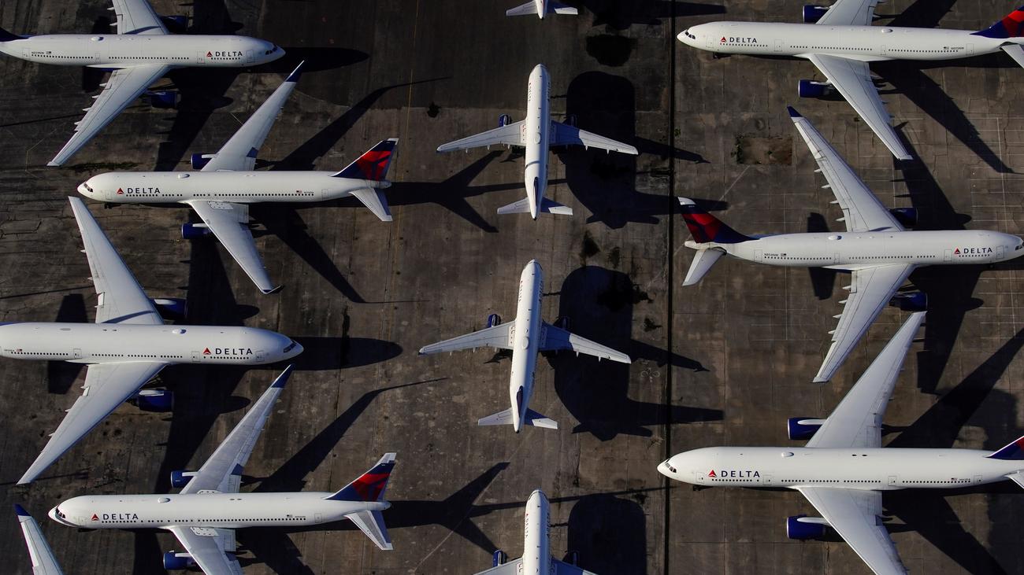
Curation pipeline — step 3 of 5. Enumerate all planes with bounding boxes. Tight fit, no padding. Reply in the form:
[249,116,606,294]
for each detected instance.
[49,366,395,575]
[0,0,285,165]
[470,490,607,575]
[78,63,397,295]
[0,195,303,487]
[13,504,66,575]
[677,0,1024,158]
[678,103,1024,381]
[657,312,1024,575]
[420,261,630,433]
[437,65,636,219]
[507,0,577,18]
